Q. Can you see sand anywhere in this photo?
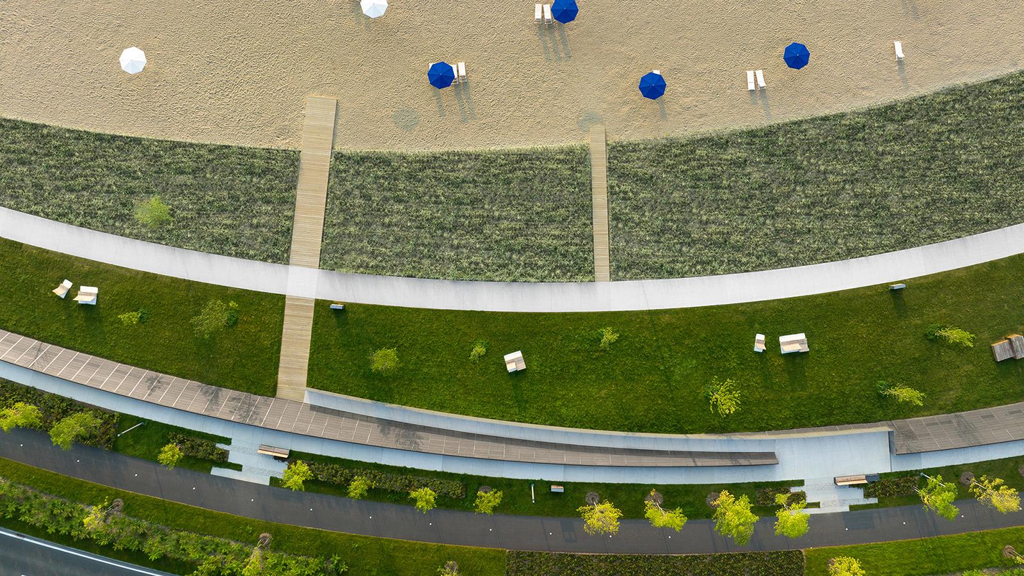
Yes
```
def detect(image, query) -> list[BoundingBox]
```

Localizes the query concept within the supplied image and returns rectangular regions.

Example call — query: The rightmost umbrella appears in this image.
[781,43,809,71]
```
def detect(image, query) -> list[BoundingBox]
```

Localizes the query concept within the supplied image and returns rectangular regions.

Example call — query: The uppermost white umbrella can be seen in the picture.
[361,0,388,20]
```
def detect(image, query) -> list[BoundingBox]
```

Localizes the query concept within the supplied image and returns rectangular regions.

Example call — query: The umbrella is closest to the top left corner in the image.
[121,47,149,74]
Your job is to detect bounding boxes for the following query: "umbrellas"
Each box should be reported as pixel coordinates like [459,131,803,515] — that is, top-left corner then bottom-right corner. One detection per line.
[428,62,455,89]
[781,43,809,71]
[121,47,149,74]
[551,0,578,24]
[639,73,666,100]
[361,0,388,20]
